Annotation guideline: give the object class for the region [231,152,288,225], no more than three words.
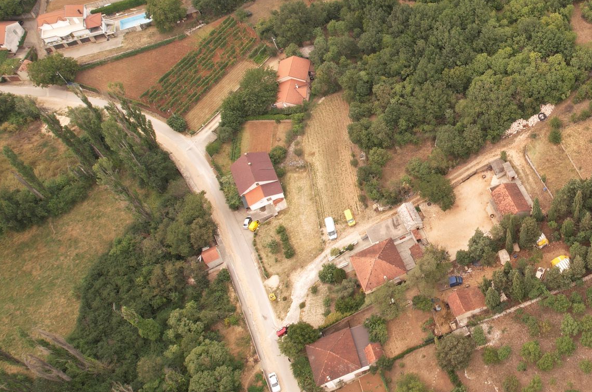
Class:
house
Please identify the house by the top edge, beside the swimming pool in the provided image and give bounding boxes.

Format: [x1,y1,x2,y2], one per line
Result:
[37,5,112,53]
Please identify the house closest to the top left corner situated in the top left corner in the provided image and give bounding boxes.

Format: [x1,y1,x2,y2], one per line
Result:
[0,23,30,60]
